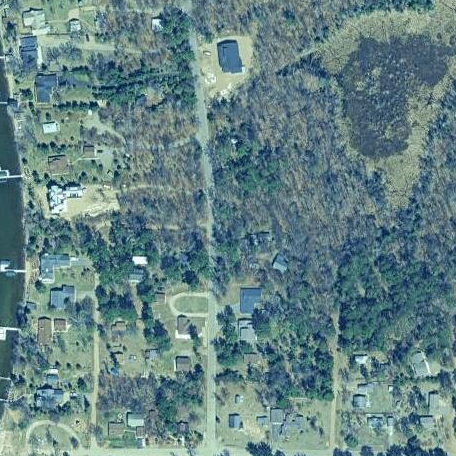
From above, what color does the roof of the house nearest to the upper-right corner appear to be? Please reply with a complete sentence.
The color of the roof on the house nearest to the upper-right corner is blue.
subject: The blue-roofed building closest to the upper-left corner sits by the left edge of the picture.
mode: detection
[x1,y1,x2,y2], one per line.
[21,37,41,66]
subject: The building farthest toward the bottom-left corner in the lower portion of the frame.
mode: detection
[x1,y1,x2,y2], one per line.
[37,389,63,408]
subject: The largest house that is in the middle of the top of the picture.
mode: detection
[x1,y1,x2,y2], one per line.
[217,39,245,73]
